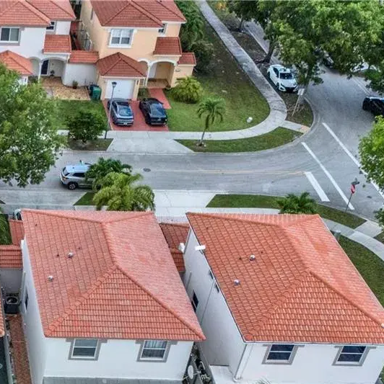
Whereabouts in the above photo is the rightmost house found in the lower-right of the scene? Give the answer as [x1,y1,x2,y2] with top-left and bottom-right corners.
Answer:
[186,209,384,384]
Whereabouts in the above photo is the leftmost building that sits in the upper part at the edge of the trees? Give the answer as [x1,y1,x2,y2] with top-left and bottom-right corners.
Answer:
[0,0,74,90]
